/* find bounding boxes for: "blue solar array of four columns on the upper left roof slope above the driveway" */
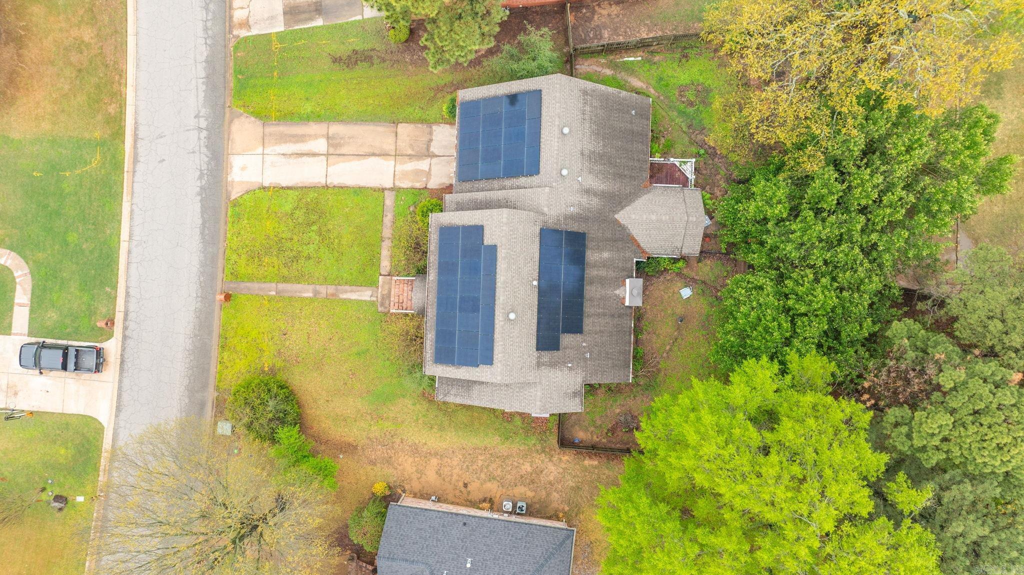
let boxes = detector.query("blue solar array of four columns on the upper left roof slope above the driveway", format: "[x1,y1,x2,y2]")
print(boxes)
[458,89,541,182]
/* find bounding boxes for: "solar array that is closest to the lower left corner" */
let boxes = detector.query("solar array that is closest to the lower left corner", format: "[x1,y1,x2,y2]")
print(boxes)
[434,224,497,368]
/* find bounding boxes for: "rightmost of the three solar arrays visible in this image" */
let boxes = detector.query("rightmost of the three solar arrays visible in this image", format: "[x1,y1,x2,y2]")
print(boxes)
[536,227,586,352]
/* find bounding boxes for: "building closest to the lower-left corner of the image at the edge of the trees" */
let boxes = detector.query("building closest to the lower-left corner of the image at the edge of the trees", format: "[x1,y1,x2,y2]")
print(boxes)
[376,486,577,575]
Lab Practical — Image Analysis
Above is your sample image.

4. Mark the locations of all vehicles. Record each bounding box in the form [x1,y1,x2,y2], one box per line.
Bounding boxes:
[19,338,105,376]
